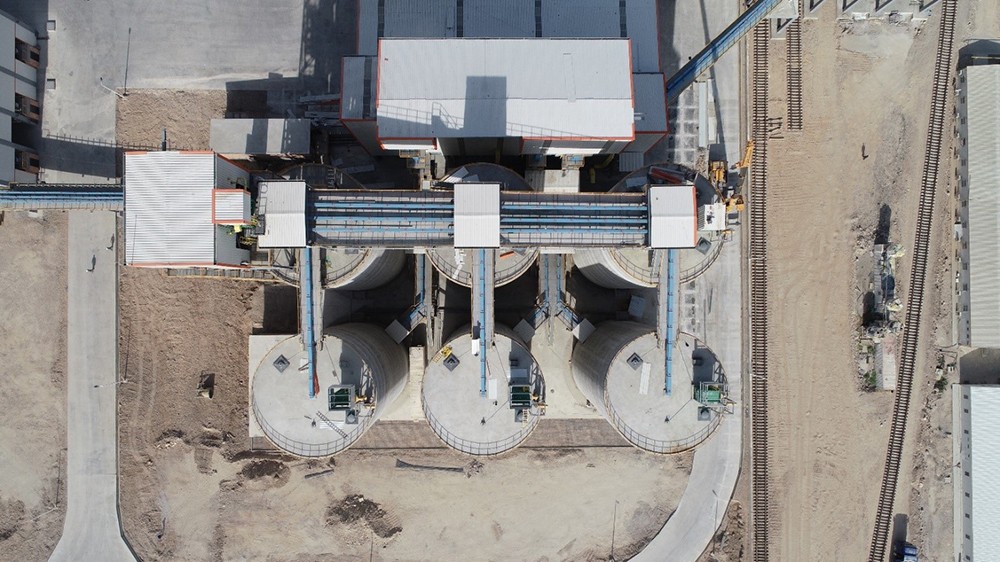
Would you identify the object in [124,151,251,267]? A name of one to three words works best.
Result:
building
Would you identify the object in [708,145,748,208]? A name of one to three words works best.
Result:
truck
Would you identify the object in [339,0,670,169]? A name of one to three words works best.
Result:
building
